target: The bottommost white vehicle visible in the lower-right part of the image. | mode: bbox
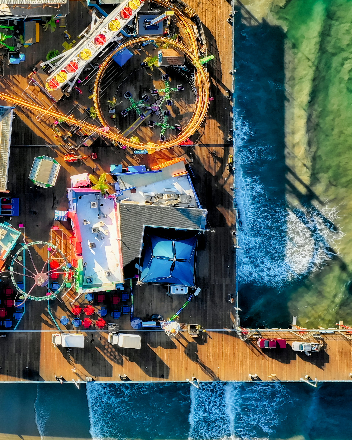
[291,340,321,353]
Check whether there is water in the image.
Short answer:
Yes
